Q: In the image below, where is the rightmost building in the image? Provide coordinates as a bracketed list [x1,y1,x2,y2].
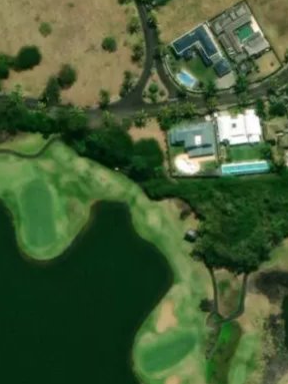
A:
[264,116,288,149]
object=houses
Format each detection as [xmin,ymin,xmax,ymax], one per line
[210,3,272,61]
[264,116,288,149]
[172,122,215,157]
[172,24,232,78]
[218,109,262,145]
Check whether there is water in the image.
Yes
